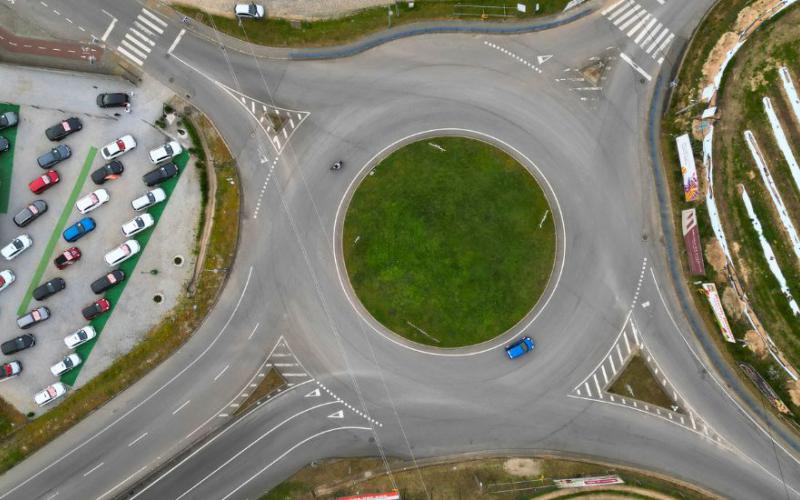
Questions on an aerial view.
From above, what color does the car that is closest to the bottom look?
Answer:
white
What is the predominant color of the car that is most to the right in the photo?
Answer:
blue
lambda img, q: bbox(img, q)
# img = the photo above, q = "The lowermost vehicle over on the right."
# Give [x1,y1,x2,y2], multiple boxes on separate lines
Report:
[505,337,534,359]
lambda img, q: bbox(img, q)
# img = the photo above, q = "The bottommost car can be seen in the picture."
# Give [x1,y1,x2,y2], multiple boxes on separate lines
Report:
[30,382,68,409]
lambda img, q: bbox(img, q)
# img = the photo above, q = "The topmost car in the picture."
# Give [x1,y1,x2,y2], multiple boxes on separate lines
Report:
[234,2,266,20]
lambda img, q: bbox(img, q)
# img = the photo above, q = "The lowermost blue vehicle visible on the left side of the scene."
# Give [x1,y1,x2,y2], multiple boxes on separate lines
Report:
[59,217,97,242]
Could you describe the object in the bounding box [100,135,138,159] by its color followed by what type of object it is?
white car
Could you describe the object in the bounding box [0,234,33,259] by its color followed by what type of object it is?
white car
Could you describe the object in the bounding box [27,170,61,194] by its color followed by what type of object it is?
red car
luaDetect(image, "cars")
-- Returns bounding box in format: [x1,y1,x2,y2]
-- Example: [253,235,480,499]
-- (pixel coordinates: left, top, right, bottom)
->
[95,91,131,109]
[141,162,179,188]
[90,161,124,184]
[79,298,112,322]
[59,217,97,242]
[30,382,68,409]
[27,170,61,194]
[16,306,51,329]
[103,240,140,266]
[0,270,16,291]
[132,188,166,211]
[121,213,155,237]
[234,2,266,20]
[45,119,83,141]
[505,337,534,359]
[0,234,33,259]
[29,277,67,302]
[100,135,138,159]
[35,144,73,170]
[62,326,96,351]
[0,334,38,356]
[73,189,110,214]
[0,362,23,381]
[88,270,126,295]
[48,353,83,378]
[147,141,184,164]
[0,109,21,129]
[52,248,84,270]
[10,200,48,225]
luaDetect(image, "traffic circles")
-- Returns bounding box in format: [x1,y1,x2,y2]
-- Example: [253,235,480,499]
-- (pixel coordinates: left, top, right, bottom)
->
[257,50,641,434]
